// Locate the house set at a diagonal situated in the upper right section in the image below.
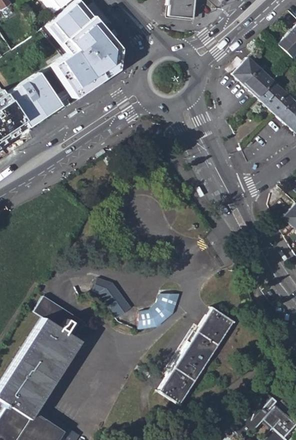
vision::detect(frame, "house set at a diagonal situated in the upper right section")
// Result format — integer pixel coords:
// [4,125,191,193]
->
[229,56,296,133]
